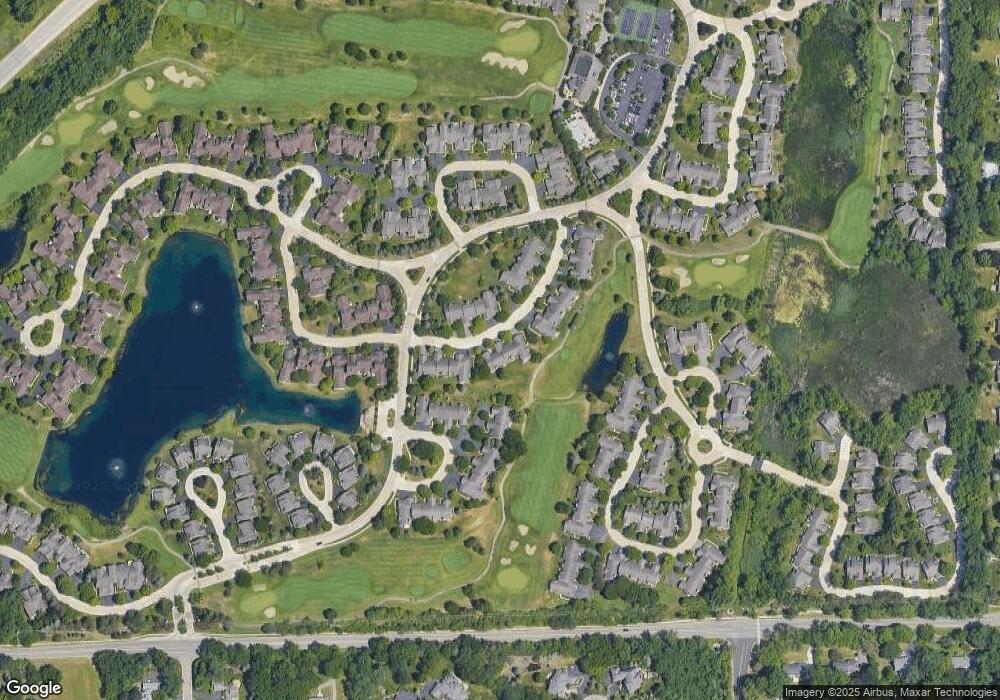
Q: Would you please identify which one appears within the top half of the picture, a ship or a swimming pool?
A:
swimming pool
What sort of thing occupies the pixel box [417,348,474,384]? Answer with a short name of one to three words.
house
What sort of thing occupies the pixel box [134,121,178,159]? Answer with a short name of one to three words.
house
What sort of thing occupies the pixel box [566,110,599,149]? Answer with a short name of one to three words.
swimming pool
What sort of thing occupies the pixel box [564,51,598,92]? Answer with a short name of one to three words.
building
